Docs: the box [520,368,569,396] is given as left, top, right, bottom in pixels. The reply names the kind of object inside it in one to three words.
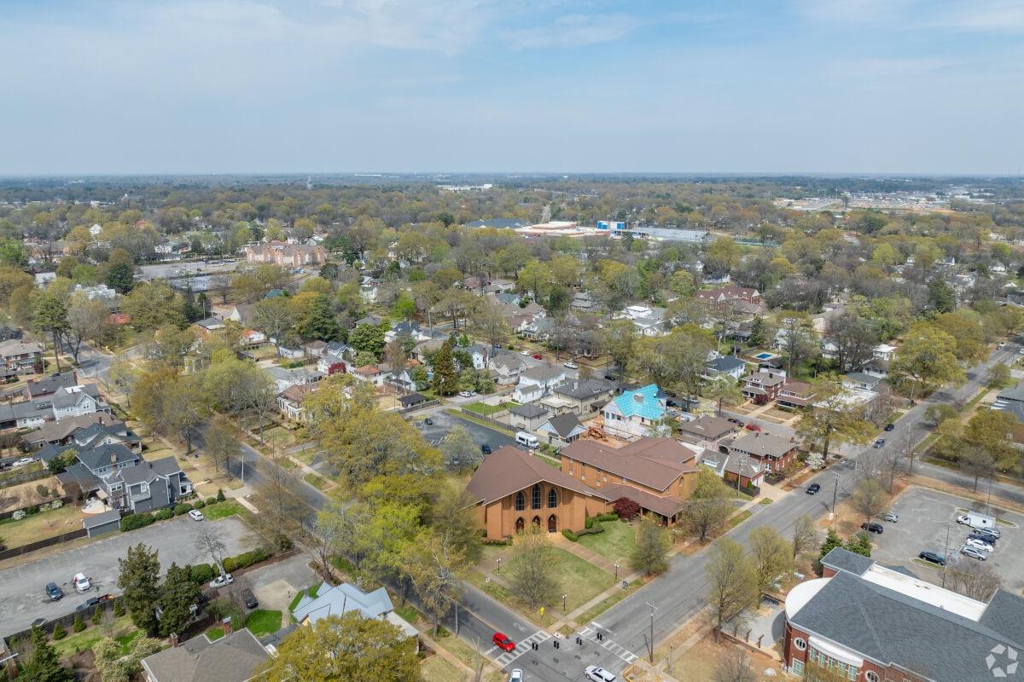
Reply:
house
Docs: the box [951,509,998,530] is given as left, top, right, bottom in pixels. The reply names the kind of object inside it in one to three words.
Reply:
truck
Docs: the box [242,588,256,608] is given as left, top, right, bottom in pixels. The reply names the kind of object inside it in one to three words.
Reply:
car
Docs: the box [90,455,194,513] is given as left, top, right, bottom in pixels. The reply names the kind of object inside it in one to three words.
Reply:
house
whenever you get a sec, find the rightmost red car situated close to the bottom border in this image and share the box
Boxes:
[492,631,517,652]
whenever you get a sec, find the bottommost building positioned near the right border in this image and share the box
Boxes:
[774,545,1024,682]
